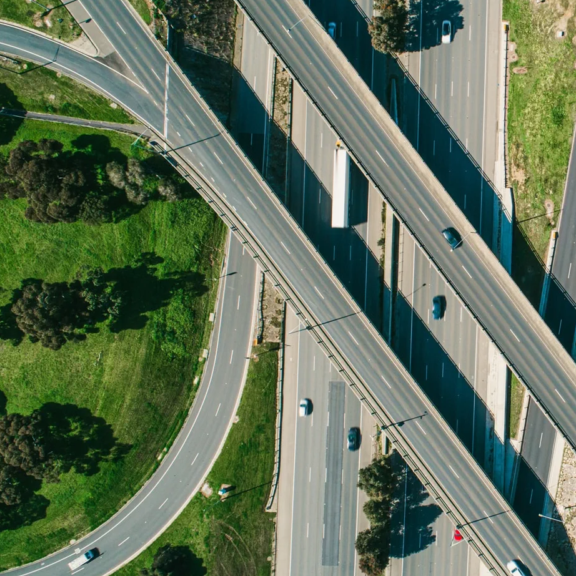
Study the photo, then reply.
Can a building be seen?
No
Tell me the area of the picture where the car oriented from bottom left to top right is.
bottom left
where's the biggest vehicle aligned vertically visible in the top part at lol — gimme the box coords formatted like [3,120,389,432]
[329,135,348,225]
